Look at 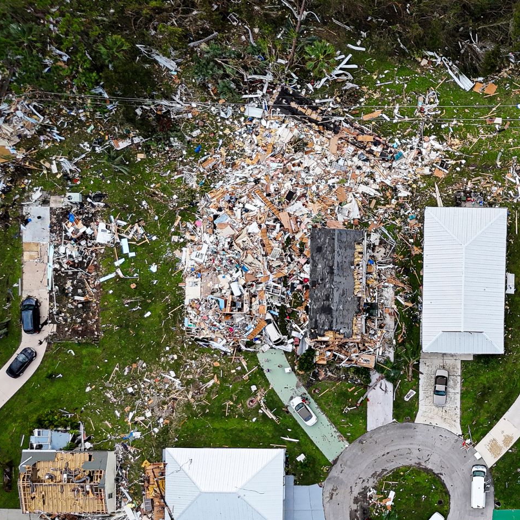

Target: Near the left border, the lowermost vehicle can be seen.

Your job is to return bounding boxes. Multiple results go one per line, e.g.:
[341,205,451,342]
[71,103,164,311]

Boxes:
[3,346,34,381]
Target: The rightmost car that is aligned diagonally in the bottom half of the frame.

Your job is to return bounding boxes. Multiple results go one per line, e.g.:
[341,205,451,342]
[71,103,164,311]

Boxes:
[288,395,316,429]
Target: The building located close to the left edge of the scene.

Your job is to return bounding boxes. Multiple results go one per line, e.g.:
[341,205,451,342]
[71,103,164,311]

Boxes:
[18,450,117,516]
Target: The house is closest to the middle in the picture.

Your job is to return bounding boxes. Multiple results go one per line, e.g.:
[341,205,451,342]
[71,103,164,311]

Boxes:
[310,229,366,357]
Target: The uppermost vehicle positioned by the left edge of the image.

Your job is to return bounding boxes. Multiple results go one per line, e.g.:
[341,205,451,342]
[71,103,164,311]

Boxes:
[18,297,39,334]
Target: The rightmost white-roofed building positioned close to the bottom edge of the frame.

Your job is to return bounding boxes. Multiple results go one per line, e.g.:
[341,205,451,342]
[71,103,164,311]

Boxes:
[164,445,288,520]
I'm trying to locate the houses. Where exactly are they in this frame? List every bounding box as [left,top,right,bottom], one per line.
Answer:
[18,450,117,516]
[310,229,366,357]
[421,206,508,355]
[164,445,288,520]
